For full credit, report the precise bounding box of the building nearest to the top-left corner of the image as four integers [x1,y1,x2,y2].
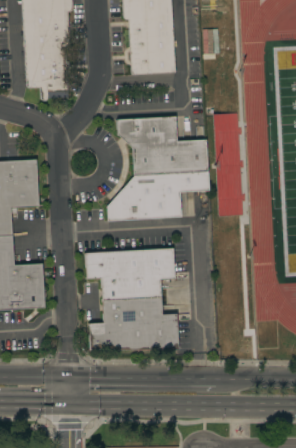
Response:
[22,0,74,102]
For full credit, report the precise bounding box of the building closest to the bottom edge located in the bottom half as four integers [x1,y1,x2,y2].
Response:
[90,297,180,348]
